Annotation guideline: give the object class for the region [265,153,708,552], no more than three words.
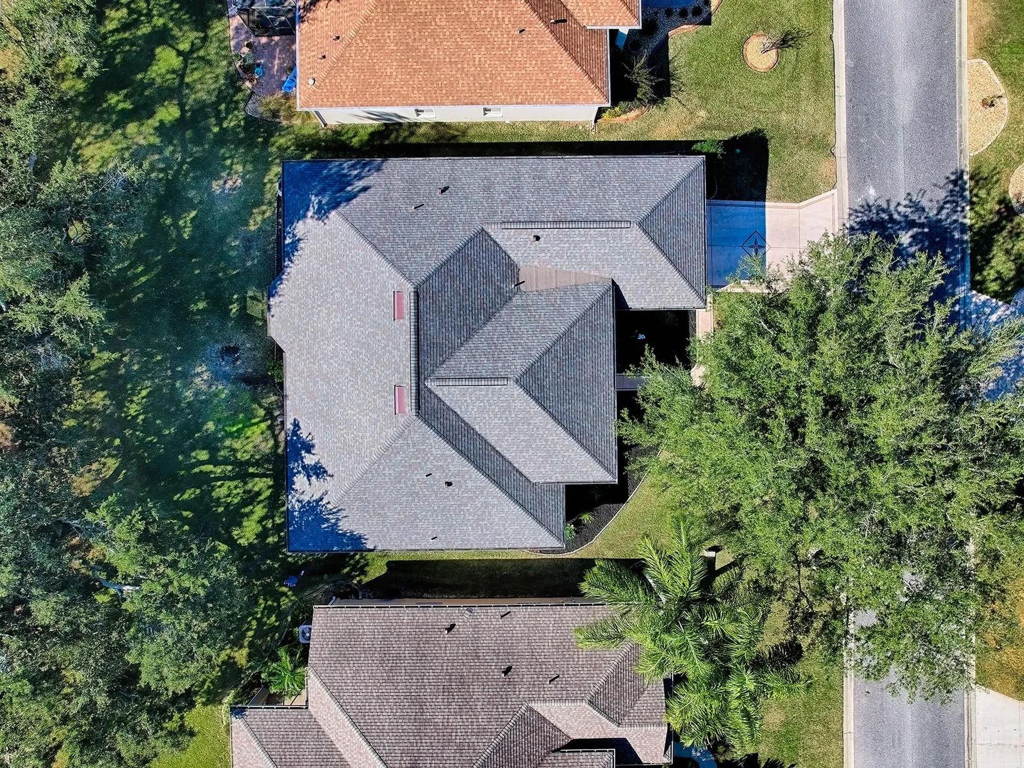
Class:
house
